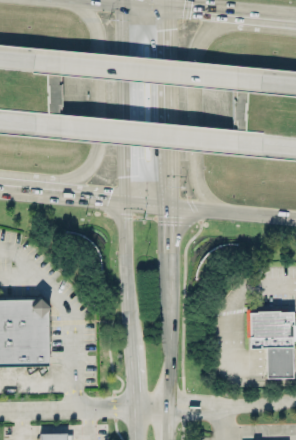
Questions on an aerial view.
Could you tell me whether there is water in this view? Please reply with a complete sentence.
No, there's no water in this view.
